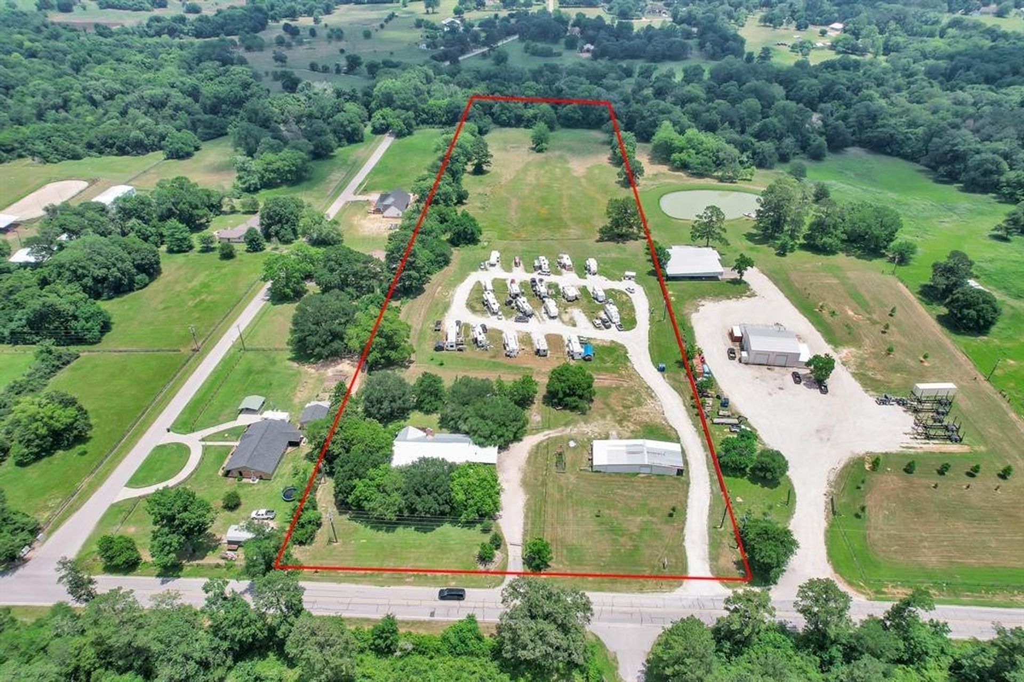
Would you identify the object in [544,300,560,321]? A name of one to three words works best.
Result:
vehicle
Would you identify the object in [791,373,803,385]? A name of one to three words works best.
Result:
vehicle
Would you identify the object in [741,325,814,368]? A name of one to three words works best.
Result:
building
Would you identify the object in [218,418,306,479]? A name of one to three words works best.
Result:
house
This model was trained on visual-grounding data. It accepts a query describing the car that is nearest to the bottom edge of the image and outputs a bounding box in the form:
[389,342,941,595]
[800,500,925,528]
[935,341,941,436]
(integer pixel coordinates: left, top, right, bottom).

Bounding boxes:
[438,587,465,601]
